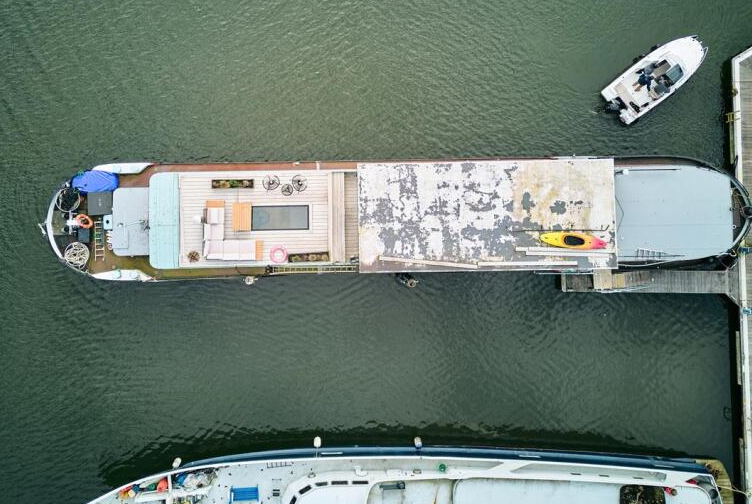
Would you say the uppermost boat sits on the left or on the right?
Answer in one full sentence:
The uppermost boat appears in the right half of the scene.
